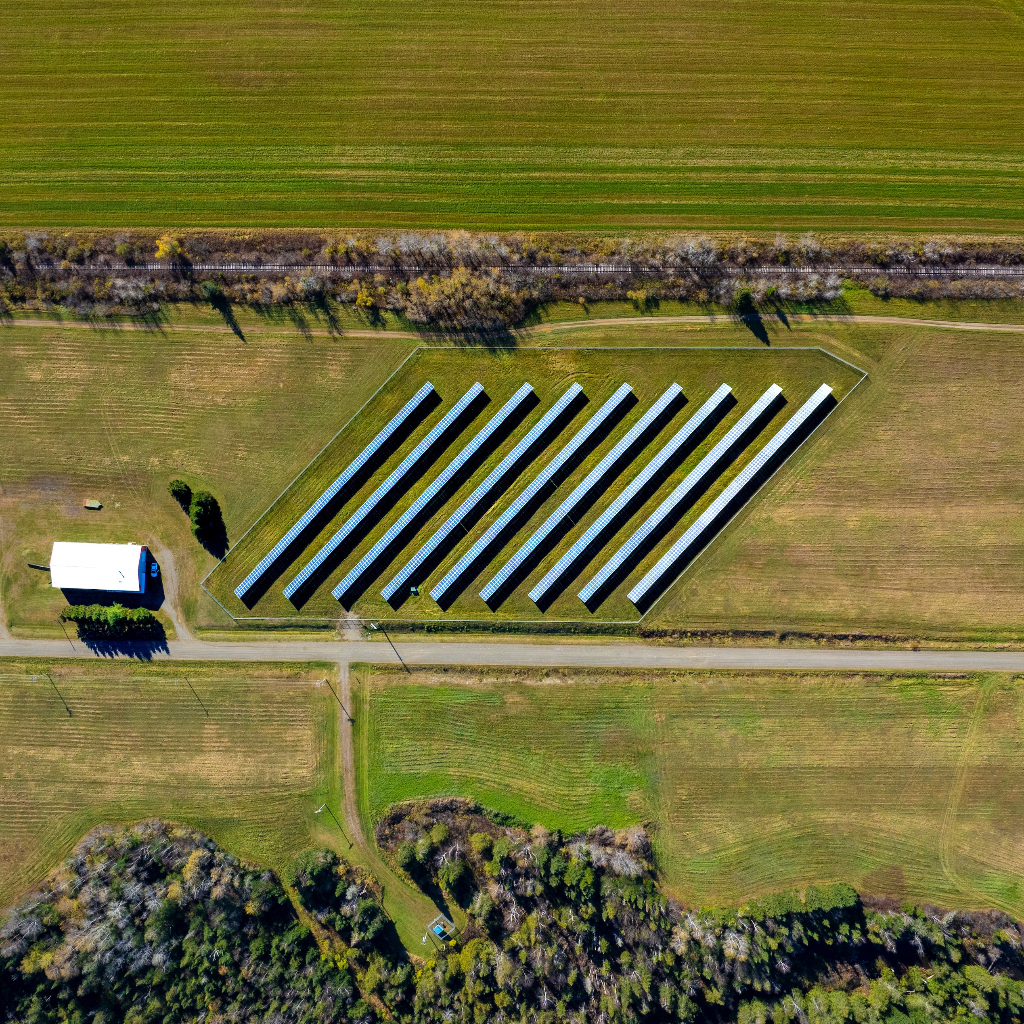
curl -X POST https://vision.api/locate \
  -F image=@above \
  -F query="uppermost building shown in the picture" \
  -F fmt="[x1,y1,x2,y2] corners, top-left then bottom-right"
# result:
[50,542,146,592]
